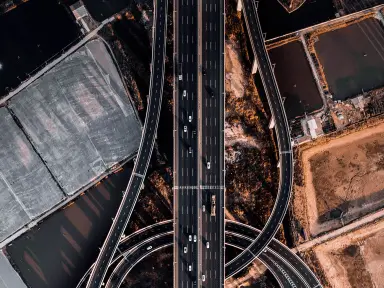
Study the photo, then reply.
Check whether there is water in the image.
Yes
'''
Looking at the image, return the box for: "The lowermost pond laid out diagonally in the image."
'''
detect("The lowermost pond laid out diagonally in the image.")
[8,165,134,288]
